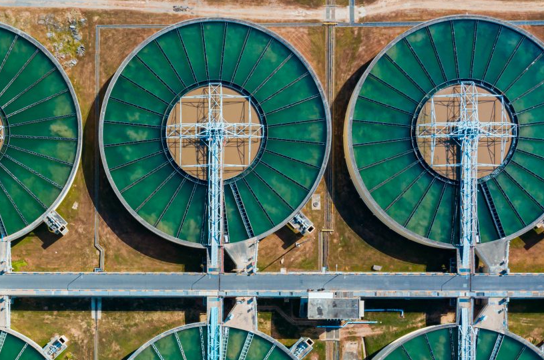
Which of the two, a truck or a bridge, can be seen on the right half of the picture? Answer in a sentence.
Visible on the right half of the picture is a bridge.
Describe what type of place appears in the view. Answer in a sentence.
It's an industrial area.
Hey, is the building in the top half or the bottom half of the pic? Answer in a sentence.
The bottom half of the photo is where the building is.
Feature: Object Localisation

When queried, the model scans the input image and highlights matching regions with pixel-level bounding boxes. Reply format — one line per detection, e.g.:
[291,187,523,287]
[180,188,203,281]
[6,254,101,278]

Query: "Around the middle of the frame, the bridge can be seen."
[165,81,265,274]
